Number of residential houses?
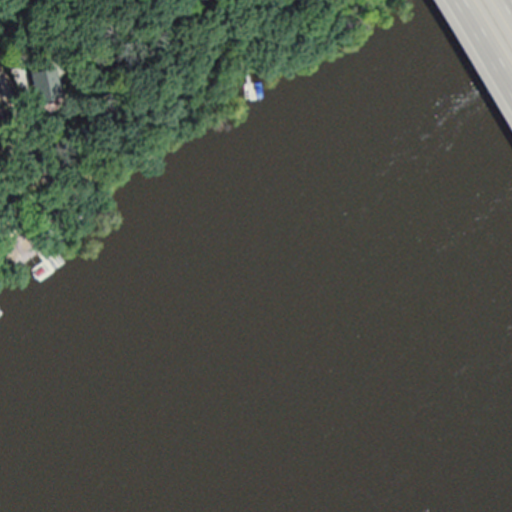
1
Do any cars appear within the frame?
No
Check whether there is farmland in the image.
No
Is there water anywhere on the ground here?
Yes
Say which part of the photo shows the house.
top left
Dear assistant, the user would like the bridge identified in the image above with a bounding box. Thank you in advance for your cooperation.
[435,0,512,128]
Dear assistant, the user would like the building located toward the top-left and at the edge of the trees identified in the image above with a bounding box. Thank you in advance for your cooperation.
[32,69,64,104]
